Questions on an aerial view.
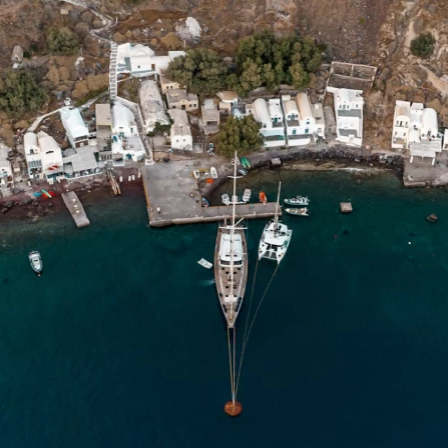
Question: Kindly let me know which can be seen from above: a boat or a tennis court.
boat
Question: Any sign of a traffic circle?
No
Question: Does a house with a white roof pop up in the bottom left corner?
No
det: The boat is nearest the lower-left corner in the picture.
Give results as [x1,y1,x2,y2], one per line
[29,248,42,274]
